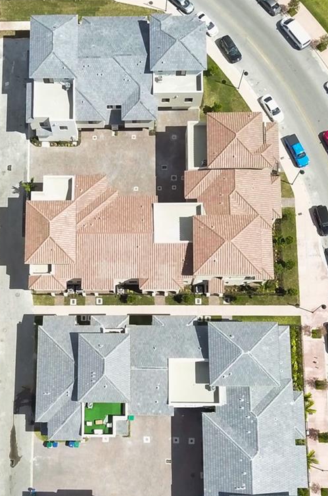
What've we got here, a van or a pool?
van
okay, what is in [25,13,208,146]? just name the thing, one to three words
building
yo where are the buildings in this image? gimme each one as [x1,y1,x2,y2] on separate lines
[24,112,282,294]
[25,13,208,146]
[35,315,309,496]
